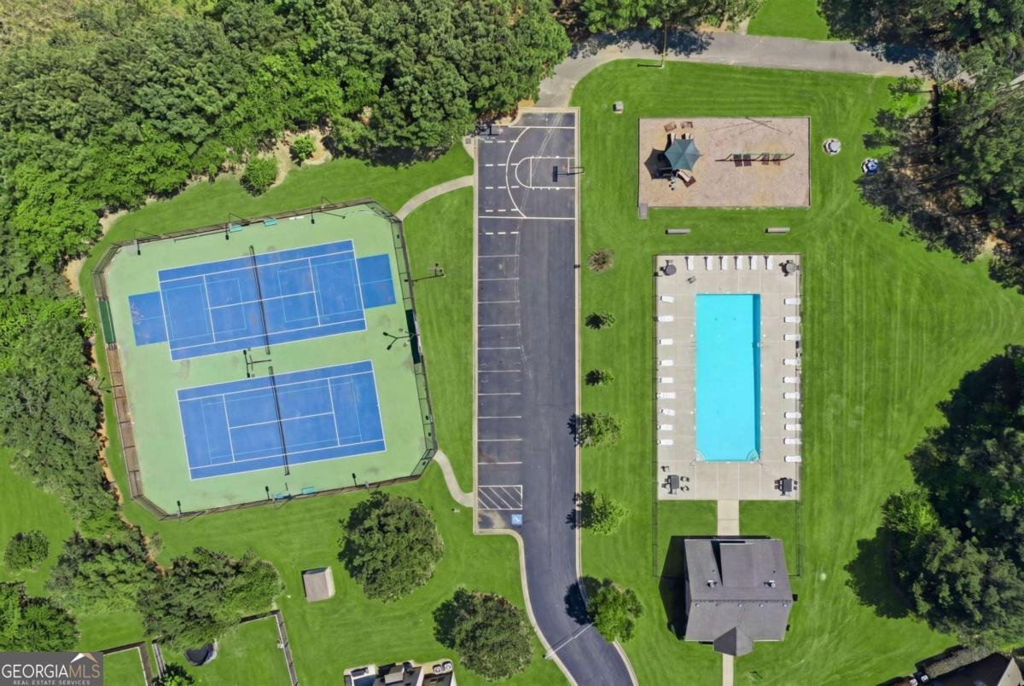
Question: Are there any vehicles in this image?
No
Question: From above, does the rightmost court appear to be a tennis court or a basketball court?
basketball court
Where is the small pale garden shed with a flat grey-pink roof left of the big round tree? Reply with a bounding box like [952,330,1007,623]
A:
[299,568,331,602]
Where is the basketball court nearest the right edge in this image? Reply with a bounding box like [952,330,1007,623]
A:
[478,113,575,218]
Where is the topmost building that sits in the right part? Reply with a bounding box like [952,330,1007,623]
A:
[682,537,795,659]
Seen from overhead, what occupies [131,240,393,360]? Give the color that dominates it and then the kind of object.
blue tennis court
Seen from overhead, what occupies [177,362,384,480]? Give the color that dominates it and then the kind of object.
blue tennis court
